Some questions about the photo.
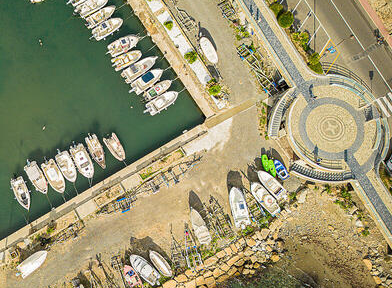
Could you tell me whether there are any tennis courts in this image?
No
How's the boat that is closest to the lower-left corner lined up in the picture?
at an angle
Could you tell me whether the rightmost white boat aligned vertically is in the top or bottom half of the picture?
bottom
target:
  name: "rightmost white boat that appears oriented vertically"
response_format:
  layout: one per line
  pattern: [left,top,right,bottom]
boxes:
[229,188,250,232]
